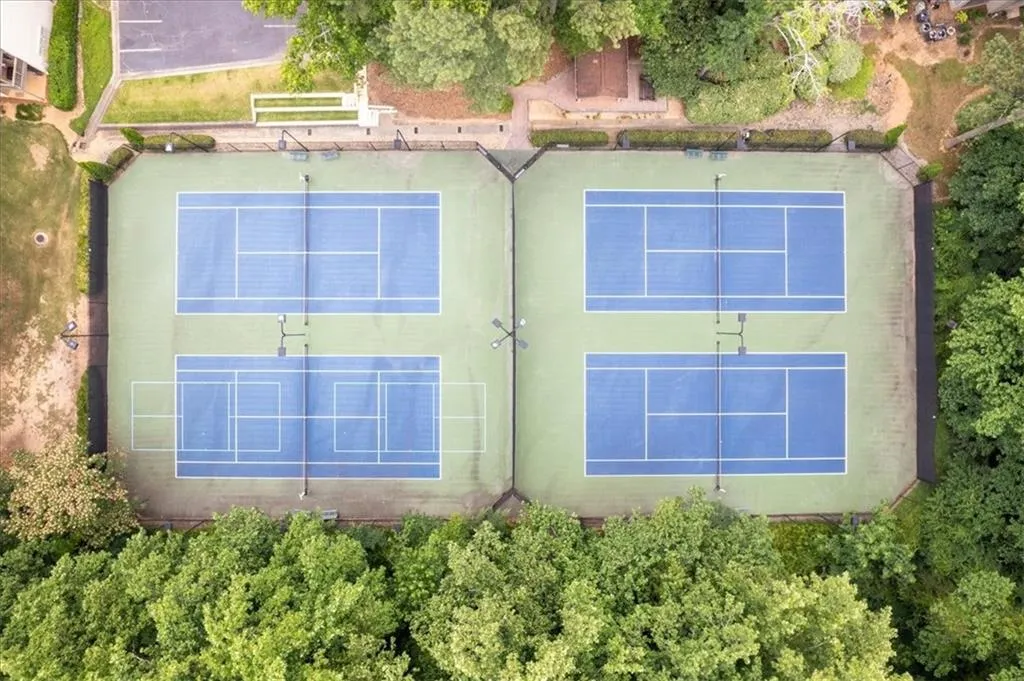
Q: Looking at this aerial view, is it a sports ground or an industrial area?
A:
sports ground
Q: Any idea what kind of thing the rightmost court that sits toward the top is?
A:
tennis court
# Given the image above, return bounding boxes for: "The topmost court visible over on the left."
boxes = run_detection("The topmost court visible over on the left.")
[108,151,513,335]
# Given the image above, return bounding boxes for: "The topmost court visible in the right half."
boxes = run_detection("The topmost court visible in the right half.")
[514,151,916,335]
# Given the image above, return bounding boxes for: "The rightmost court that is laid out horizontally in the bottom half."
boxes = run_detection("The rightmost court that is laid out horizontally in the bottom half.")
[514,335,917,520]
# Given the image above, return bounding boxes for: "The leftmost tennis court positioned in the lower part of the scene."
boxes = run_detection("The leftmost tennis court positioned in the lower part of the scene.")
[108,335,513,519]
